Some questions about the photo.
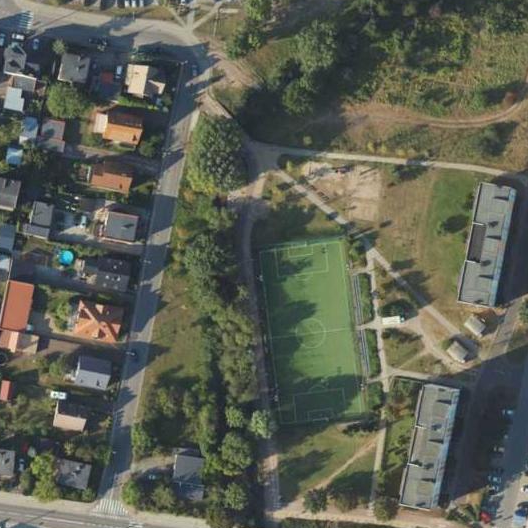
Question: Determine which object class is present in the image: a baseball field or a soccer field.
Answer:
soccer field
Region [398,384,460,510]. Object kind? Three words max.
building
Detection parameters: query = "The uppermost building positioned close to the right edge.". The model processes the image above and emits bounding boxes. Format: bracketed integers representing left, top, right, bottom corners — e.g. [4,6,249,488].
[456,183,516,307]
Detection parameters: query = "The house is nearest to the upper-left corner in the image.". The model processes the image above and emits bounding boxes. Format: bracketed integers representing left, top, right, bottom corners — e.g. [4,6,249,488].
[4,45,40,76]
